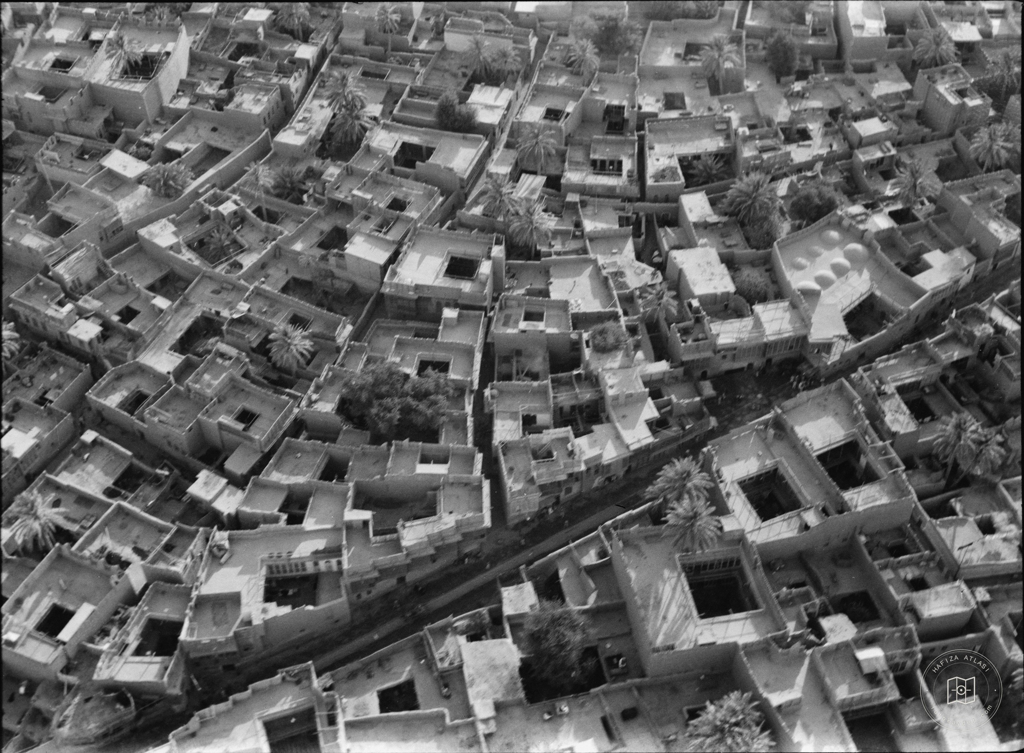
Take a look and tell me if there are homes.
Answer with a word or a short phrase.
Yes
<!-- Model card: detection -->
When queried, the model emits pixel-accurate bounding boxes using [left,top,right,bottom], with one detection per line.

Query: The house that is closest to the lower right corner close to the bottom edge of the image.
[936,697,1001,753]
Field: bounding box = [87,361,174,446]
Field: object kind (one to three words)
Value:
house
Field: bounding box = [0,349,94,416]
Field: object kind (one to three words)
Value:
house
